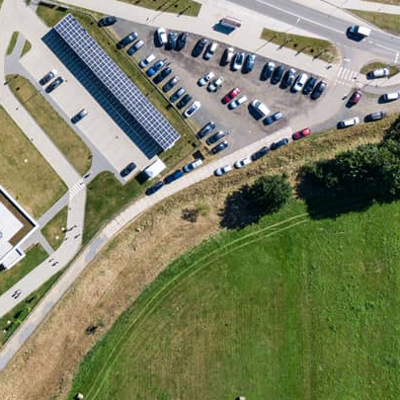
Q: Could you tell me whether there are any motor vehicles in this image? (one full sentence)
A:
Yes, the picture does show a motor vehicle.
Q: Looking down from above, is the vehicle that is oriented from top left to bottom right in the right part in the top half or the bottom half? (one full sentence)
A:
The vehicle that is oriented from top left to bottom right in the right part is in the top half of the image.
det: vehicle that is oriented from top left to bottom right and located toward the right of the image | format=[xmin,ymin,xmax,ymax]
[249,98,271,119]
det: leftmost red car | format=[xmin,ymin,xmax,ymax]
[223,88,239,102]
